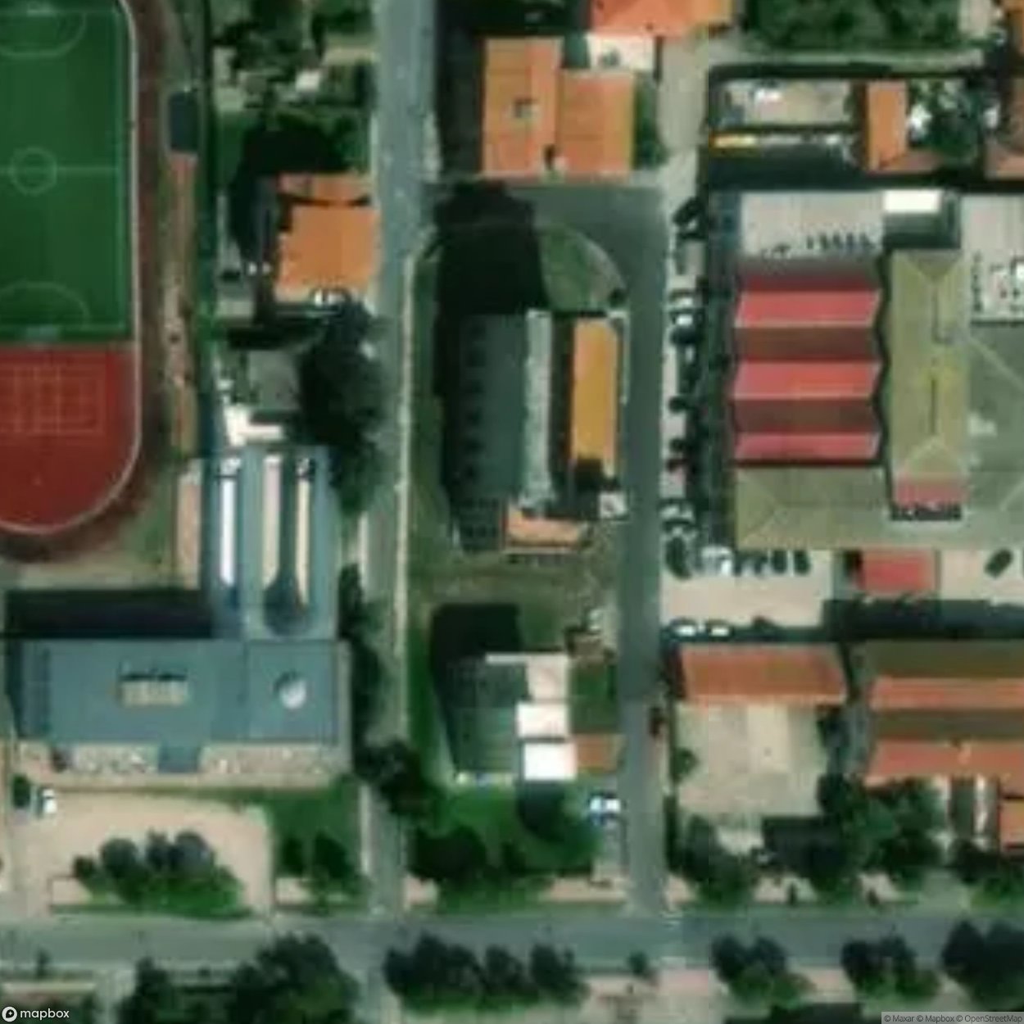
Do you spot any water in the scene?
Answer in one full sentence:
No, there is no water in the image.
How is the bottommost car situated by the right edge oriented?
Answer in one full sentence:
In this picture, the bottommost car situated by the right edge is oriented diagonally.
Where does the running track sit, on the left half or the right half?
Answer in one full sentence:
You can find the running track on the left side of the picture.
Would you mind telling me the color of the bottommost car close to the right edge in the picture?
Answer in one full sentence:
From above, the bottommost car close to the right edge appears black.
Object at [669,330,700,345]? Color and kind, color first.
black car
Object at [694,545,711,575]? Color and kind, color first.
gray car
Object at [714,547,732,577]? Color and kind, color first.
white car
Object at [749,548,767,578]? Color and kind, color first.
gray car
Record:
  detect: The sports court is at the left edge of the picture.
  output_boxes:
[0,350,133,531]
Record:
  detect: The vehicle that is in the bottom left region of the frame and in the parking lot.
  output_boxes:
[39,786,57,816]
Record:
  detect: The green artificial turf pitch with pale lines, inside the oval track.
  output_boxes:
[0,0,133,343]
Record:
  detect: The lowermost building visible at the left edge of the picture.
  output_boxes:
[22,641,336,772]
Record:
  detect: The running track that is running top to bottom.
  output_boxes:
[0,0,172,568]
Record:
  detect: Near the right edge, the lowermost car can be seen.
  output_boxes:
[984,549,1011,578]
